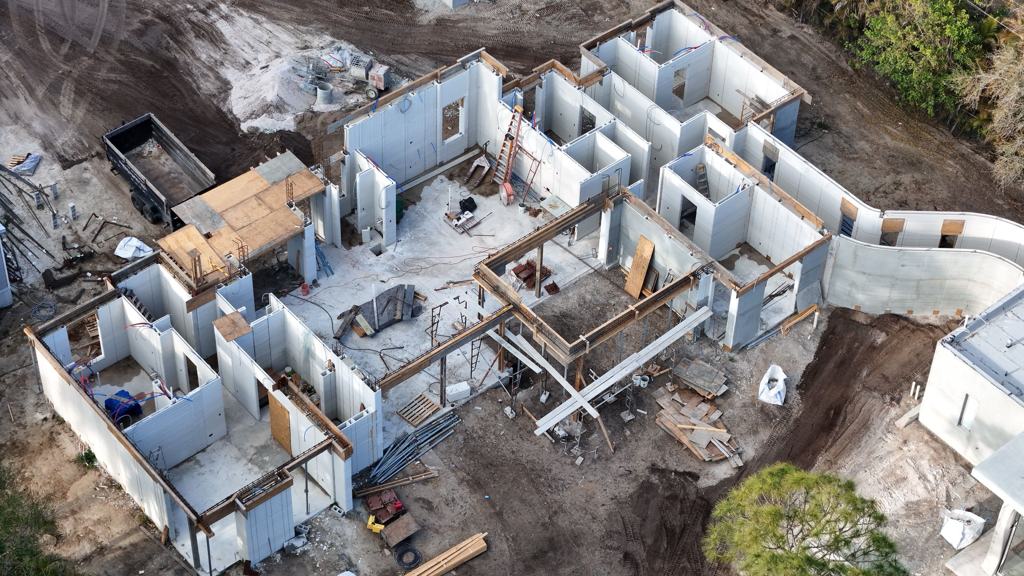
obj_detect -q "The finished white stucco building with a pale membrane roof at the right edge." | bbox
[918,283,1024,467]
